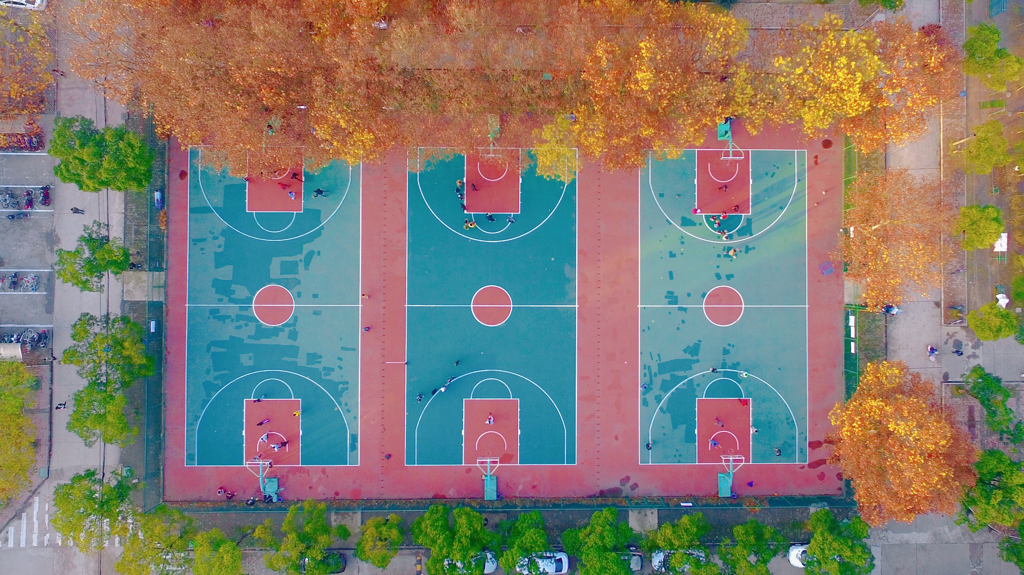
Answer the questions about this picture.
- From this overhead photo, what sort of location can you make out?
sports ground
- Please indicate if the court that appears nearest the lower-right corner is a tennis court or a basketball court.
basketball court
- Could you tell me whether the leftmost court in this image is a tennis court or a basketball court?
basketball court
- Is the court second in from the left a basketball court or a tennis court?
basketball court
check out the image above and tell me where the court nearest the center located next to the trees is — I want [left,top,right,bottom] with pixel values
[404,147,579,465]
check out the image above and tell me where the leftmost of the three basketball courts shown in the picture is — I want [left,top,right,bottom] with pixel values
[185,145,364,466]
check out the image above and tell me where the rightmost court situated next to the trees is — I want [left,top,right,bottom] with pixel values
[639,149,809,465]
